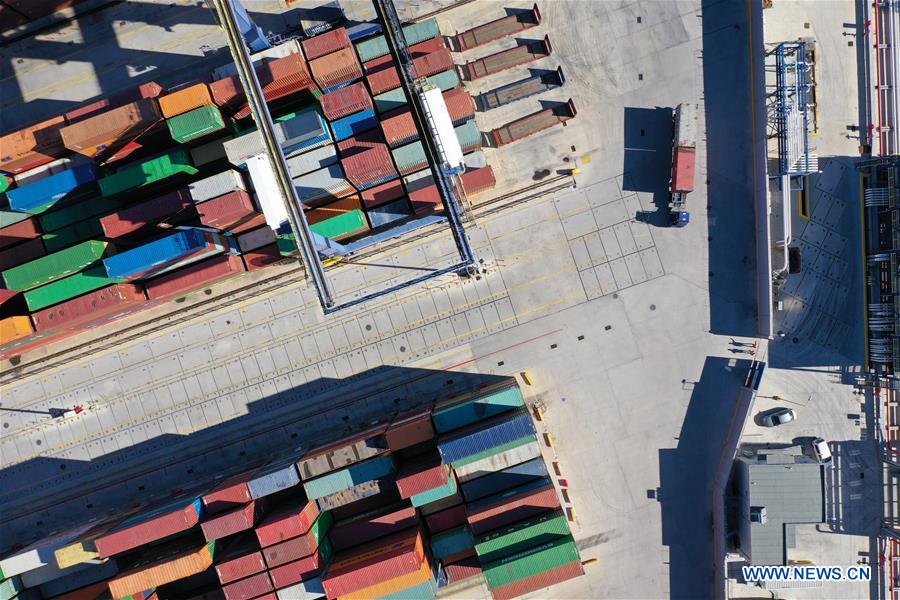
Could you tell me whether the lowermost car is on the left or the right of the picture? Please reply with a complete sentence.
You can find the lowermost car on the right side of the picture.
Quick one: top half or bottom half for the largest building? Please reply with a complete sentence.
It is in the bottom half that the largest building appears.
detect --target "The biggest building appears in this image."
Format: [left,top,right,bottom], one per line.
[731,444,823,566]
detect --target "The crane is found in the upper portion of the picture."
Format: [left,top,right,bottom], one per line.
[210,0,485,314]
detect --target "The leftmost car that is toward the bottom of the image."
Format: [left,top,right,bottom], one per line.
[764,407,797,425]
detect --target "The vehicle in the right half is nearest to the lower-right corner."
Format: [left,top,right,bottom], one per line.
[808,435,834,466]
